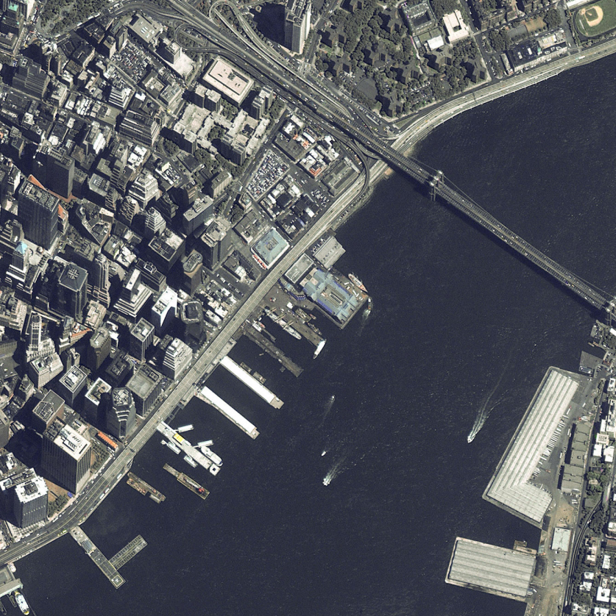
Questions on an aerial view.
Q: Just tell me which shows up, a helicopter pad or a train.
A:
helicopter pad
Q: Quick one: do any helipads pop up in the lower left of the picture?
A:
Yes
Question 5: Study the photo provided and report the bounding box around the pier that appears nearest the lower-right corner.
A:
[445,537,539,603]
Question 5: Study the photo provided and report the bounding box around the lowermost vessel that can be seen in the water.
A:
[15,592,30,614]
